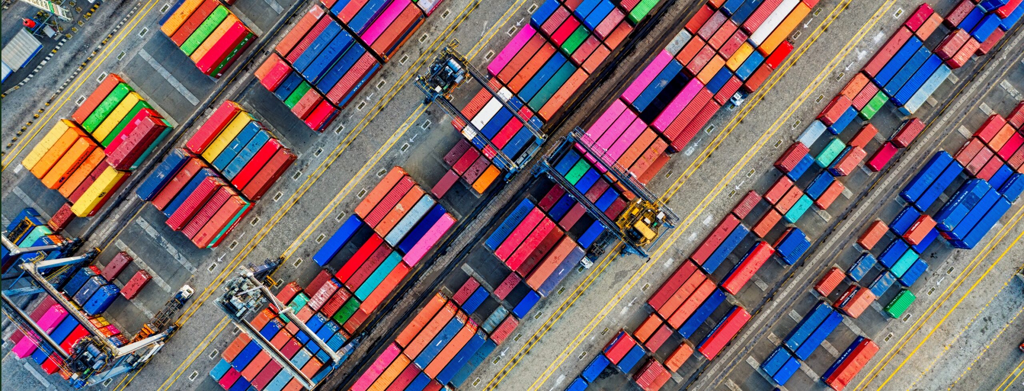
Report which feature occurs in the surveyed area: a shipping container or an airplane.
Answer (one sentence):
I can see a shipping container in this picture.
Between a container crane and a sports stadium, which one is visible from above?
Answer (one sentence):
The one in the frame is a container crane.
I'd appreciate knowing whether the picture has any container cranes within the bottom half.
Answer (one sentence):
Yes, a container crane is visible within the bottom half.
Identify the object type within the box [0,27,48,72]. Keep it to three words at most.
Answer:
shed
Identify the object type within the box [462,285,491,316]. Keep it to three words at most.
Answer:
shipping container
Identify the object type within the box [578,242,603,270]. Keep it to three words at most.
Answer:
vehicle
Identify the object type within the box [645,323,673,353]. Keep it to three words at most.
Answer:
shipping container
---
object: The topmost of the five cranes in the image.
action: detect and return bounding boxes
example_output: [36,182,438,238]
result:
[409,33,554,184]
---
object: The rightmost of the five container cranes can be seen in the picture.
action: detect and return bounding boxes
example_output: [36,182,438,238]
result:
[530,121,681,259]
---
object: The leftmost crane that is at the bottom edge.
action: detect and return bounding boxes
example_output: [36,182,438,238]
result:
[0,235,191,391]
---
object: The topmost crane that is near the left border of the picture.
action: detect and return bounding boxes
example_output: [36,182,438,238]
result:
[0,228,101,286]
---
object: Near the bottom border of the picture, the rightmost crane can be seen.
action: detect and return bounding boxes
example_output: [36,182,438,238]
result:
[204,246,380,391]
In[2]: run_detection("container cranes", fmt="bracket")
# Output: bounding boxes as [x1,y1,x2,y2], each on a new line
[204,246,380,391]
[0,235,191,391]
[409,33,554,184]
[0,228,101,286]
[530,121,681,259]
